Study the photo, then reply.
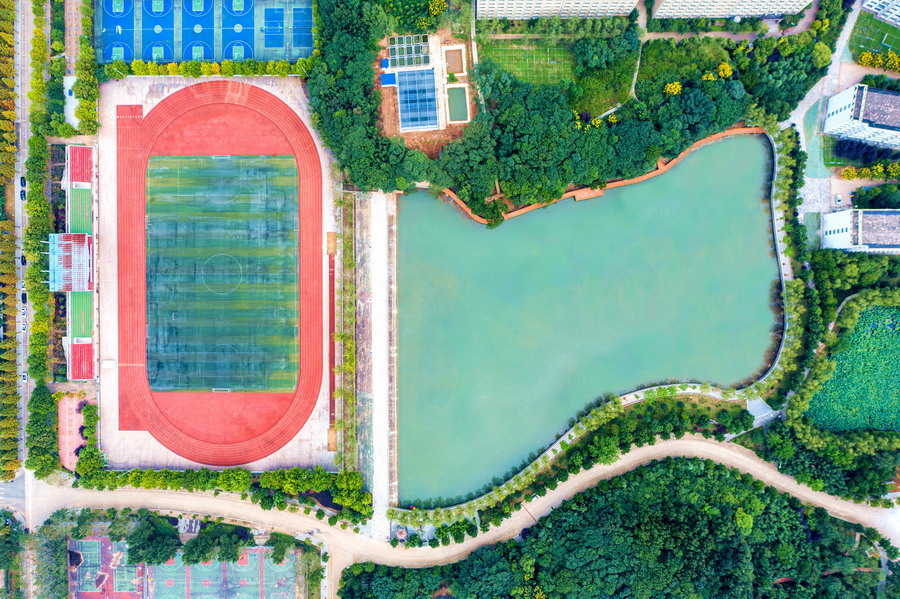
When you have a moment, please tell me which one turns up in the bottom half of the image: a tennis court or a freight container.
tennis court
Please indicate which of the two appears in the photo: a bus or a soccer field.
soccer field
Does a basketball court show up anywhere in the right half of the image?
No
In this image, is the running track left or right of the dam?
to the left of it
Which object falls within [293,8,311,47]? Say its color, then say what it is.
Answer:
blue sports court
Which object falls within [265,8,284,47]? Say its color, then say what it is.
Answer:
blue sports court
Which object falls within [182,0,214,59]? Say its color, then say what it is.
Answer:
blue basketball court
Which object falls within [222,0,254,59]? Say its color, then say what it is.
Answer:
blue basketball court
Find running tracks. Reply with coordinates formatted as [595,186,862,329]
[112,81,322,466]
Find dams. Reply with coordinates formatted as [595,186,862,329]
[356,192,395,541]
